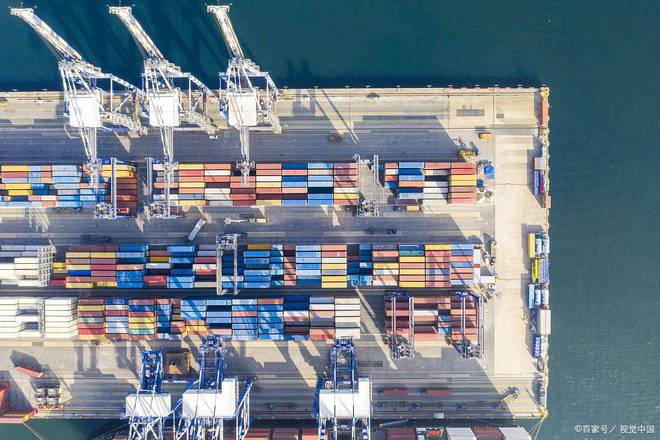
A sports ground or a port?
port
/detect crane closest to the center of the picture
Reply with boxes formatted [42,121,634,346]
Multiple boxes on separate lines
[353,153,378,218]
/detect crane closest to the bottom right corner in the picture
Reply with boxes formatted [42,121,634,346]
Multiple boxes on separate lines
[450,292,484,361]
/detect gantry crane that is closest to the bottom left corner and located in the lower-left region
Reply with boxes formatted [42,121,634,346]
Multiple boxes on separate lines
[124,349,198,440]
